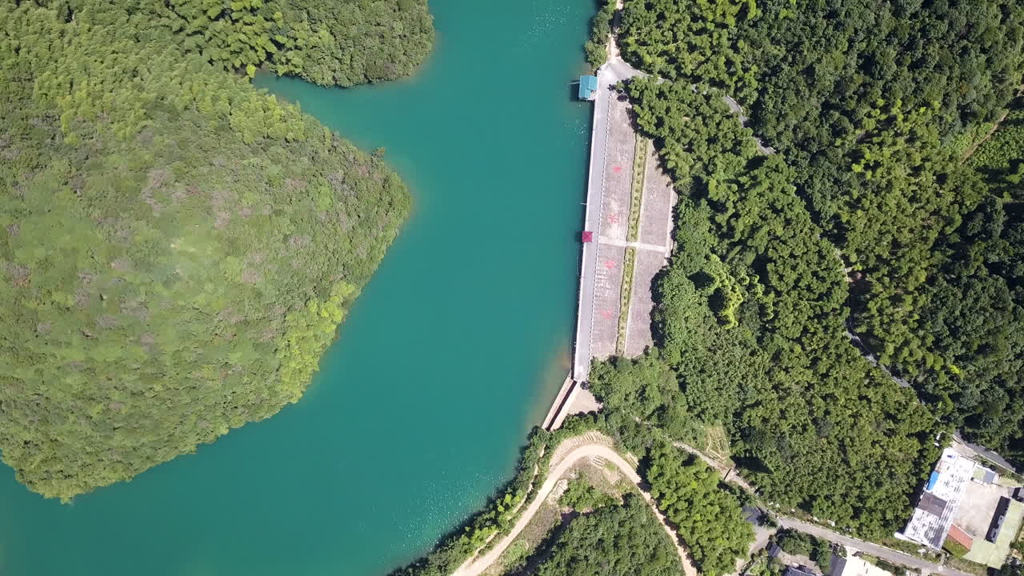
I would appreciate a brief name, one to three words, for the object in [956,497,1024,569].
building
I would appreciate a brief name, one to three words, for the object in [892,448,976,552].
building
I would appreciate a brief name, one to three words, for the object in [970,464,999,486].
shed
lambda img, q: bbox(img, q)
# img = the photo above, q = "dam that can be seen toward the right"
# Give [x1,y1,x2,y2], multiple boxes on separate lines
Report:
[572,94,680,382]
